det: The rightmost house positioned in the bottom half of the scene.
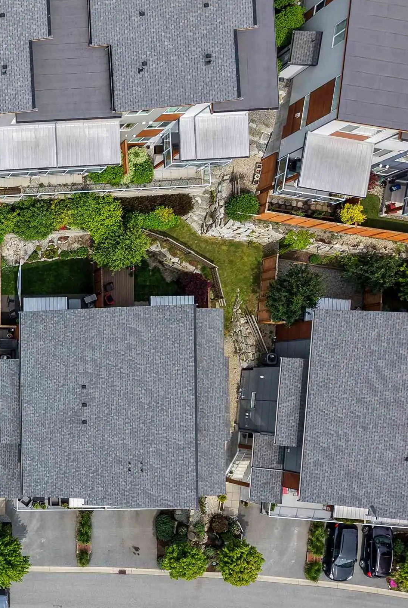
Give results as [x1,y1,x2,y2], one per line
[225,297,408,527]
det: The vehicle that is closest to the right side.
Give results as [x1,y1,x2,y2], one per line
[356,524,392,579]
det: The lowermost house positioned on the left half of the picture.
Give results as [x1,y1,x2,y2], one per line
[0,295,231,510]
